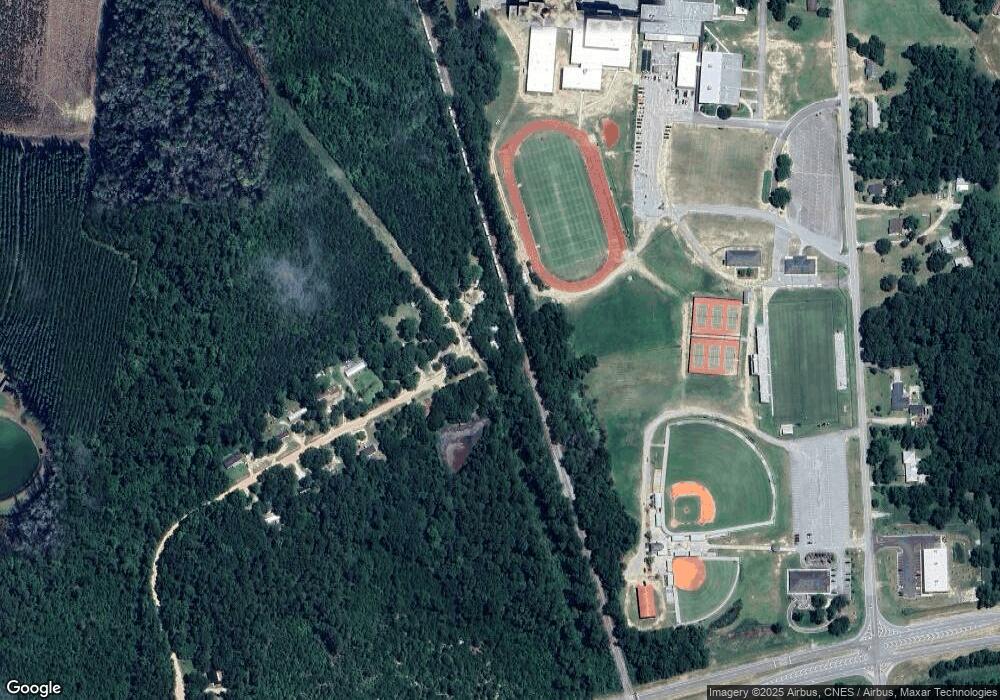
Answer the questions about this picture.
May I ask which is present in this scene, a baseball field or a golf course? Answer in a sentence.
Of the two, only a baseball field appears.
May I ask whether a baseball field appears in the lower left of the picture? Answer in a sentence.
No, looking in the lower left of the picture, there is no baseball field.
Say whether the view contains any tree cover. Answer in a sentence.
Yes, there is tree cover in the image.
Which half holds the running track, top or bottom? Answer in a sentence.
The top half of the photo is where the running track is.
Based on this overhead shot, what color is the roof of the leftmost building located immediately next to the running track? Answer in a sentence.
From above, the roof of the leftmost building located immediately next to the running track looks white.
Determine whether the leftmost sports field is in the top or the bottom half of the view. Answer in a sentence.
The leftmost sports field sits in the top half of the picture.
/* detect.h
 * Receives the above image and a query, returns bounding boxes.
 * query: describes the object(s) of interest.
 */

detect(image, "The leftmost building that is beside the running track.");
[526,27,557,94]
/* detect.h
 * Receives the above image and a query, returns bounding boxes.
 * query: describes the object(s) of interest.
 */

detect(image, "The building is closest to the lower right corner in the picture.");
[924,549,947,593]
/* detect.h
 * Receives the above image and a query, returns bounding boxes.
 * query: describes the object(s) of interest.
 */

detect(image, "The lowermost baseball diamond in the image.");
[674,556,740,625]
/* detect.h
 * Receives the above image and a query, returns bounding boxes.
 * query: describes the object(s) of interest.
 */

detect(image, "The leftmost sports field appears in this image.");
[515,131,608,281]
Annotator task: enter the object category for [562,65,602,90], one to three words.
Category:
building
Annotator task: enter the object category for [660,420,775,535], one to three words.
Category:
baseball field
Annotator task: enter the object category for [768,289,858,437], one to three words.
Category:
sports field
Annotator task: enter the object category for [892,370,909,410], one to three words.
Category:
house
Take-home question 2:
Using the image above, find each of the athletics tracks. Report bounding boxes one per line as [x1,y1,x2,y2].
[498,119,628,293]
